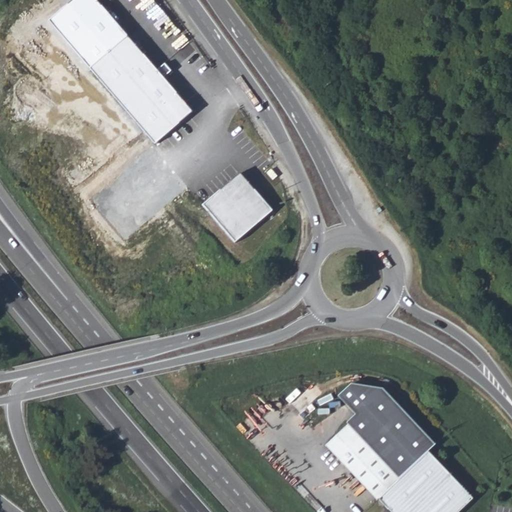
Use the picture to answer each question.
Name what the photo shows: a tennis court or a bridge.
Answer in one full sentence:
This aerial view contains a bridge.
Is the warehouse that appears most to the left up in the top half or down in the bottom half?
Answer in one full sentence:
The warehouse that appears most to the left sits in the top half of the picture.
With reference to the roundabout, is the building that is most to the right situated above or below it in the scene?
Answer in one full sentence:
Within the scene, the building that is most to the right can be found below the roundabout.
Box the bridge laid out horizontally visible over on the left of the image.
[14,335,186,402]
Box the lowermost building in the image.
[326,384,474,512]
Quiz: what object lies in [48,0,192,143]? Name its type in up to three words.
warehouse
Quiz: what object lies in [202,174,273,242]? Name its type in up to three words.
building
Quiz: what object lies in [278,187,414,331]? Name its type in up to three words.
roundabout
